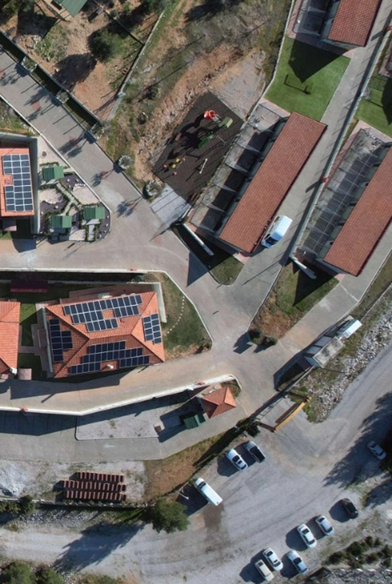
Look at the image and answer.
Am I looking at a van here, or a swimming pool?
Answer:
van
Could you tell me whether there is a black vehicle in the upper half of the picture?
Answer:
No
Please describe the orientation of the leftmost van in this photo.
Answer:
at an angle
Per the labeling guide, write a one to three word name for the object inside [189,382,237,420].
house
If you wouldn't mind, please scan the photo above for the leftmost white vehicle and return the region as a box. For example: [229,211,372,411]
[195,476,231,513]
